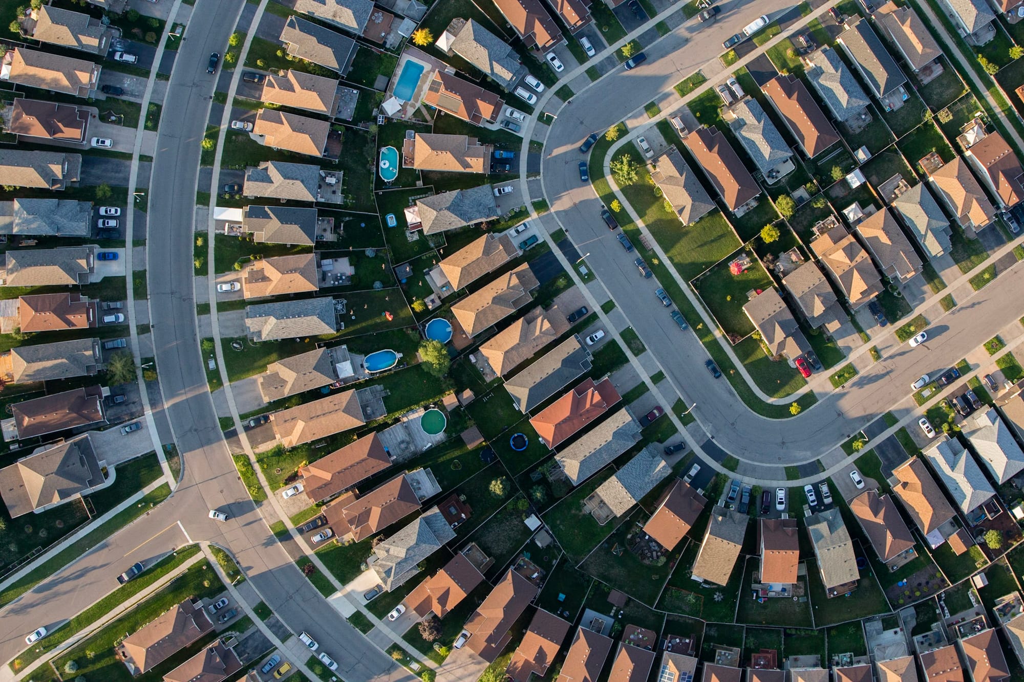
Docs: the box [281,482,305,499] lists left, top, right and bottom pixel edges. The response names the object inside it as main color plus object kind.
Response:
white car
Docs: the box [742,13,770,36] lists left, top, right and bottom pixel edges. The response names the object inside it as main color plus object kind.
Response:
white vehicle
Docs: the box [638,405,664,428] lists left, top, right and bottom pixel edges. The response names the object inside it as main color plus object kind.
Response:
black truck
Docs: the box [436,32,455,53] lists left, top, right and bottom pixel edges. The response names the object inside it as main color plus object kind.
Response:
white gazebo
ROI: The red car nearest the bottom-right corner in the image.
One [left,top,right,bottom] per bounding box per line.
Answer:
[796,356,813,379]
